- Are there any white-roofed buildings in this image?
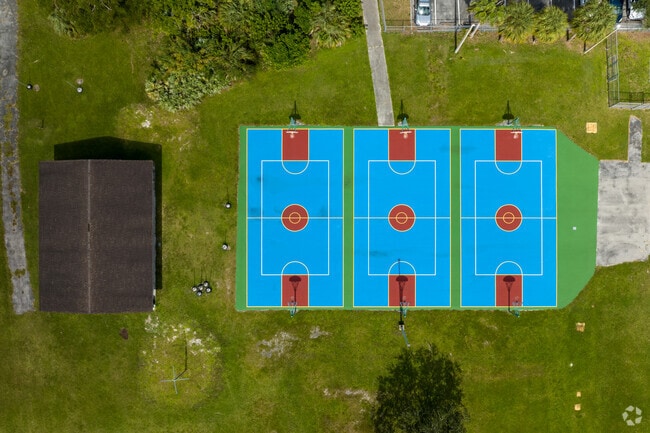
No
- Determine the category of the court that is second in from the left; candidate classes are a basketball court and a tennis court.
basketball court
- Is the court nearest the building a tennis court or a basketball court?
basketball court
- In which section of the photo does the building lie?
left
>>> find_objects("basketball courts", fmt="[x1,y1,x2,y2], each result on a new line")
[247,128,344,307]
[460,128,557,307]
[354,128,451,307]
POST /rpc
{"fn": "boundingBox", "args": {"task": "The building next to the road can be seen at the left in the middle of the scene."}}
[39,159,158,314]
